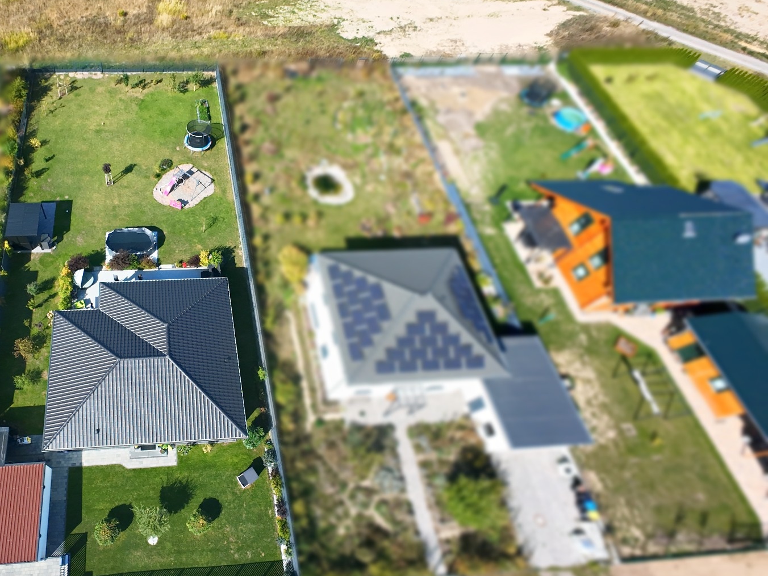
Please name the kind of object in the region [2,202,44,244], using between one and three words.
shed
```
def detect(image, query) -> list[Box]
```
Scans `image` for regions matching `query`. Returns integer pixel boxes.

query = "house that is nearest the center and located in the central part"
[302,247,510,399]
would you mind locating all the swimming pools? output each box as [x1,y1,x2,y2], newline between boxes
[553,108,590,134]
[106,226,157,259]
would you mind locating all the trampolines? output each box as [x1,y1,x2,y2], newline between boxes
[182,119,214,157]
[520,75,561,108]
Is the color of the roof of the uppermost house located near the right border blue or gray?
blue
